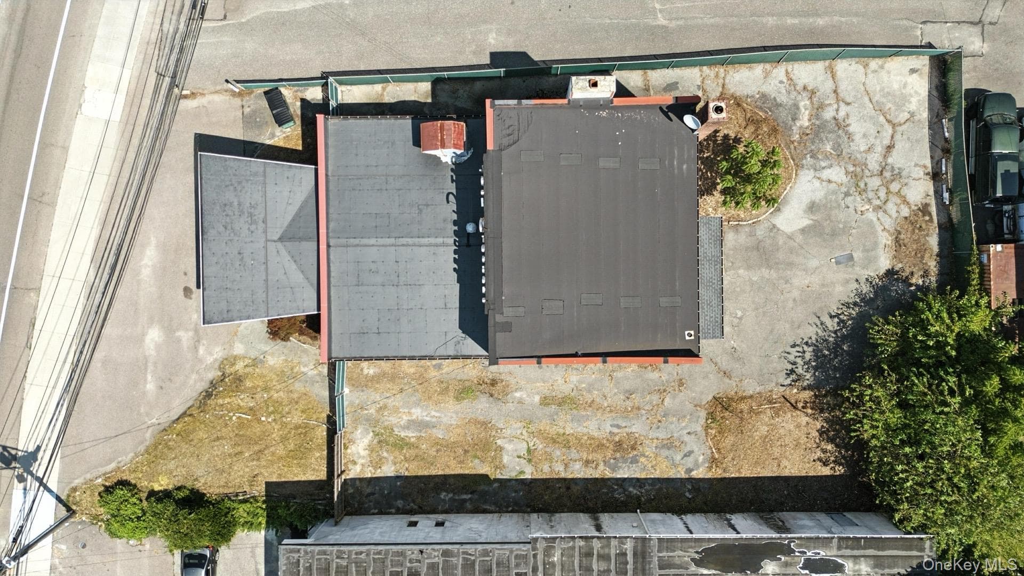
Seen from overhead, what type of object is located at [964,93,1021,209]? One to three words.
truck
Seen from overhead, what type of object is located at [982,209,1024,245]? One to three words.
trailer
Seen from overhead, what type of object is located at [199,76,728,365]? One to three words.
building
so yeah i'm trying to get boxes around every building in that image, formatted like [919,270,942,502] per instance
[199,76,728,365]
[281,509,933,576]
